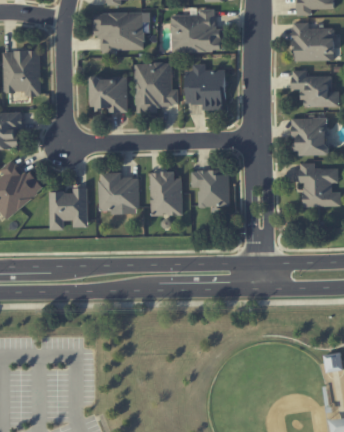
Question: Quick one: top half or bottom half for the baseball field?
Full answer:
The bottom half of the photo is where the baseball field is.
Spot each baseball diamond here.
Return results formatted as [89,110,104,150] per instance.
[208,342,330,432]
